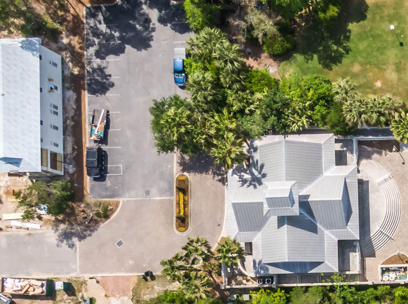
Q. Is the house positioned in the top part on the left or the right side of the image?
left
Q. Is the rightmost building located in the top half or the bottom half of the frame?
bottom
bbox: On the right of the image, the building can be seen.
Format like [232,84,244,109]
[228,133,359,273]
